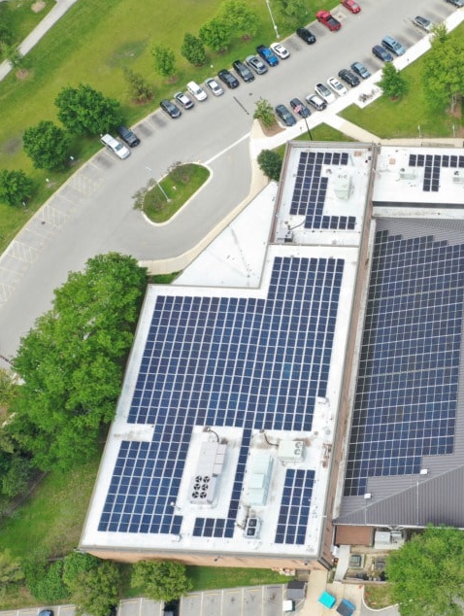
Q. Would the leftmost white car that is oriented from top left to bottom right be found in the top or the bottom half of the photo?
top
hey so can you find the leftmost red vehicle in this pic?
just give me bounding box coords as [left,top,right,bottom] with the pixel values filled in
[315,9,342,34]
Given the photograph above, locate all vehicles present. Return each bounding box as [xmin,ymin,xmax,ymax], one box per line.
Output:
[158,97,182,120]
[173,90,195,111]
[201,76,225,97]
[410,11,435,34]
[312,82,336,105]
[380,33,407,57]
[98,603,118,616]
[183,77,209,104]
[268,41,291,61]
[315,9,342,34]
[245,54,267,76]
[229,57,257,83]
[336,66,362,89]
[253,43,281,69]
[217,69,241,90]
[325,76,348,97]
[304,91,329,114]
[294,24,318,47]
[116,124,141,149]
[340,0,362,15]
[161,596,181,616]
[275,105,297,127]
[370,43,394,64]
[288,96,311,119]
[101,132,128,159]
[348,60,373,81]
